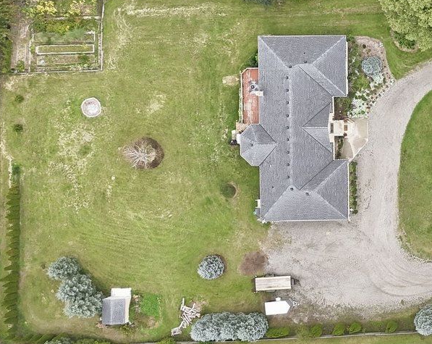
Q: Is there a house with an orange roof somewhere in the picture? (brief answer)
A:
No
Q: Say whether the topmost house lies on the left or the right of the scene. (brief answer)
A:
right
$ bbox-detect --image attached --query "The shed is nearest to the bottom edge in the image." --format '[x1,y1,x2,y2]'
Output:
[104,286,138,326]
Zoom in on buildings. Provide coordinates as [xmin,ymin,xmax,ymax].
[104,286,138,326]
[240,35,352,222]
